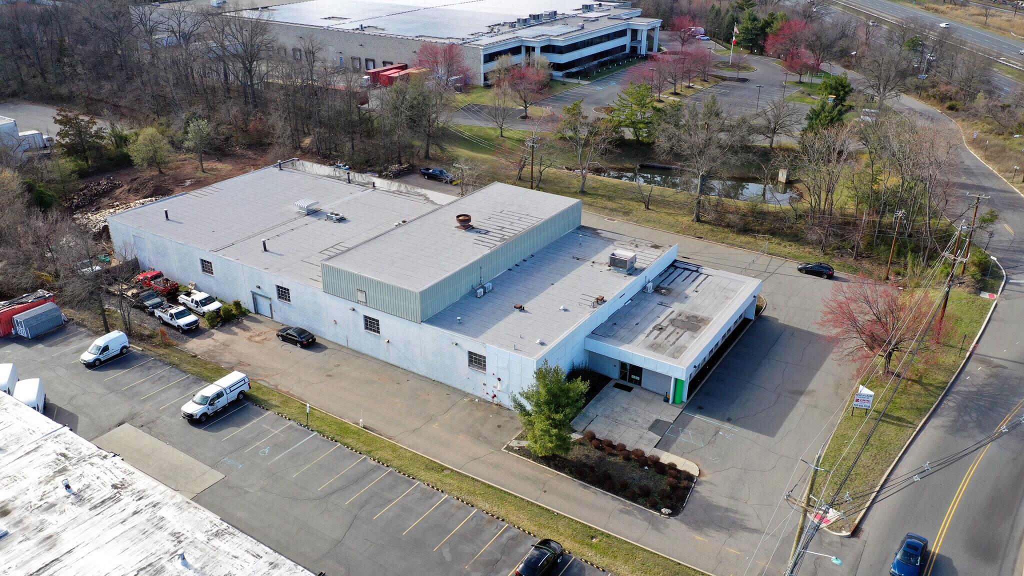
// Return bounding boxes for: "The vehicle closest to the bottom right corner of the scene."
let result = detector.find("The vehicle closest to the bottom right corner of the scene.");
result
[888,531,930,576]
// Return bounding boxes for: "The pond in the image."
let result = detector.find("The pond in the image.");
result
[565,165,802,203]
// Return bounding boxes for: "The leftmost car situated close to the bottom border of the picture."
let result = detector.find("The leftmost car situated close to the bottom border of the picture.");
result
[517,532,567,576]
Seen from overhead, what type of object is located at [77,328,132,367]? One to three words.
van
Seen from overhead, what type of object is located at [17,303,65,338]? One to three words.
shed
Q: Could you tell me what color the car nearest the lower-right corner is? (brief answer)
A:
blue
